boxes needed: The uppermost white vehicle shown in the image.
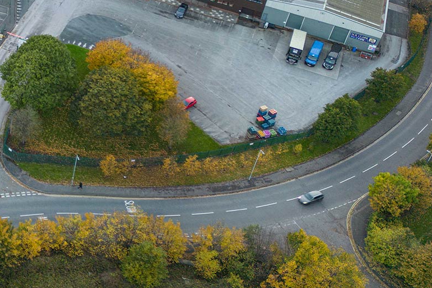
[285,31,307,62]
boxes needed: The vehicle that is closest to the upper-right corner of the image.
[323,45,342,64]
